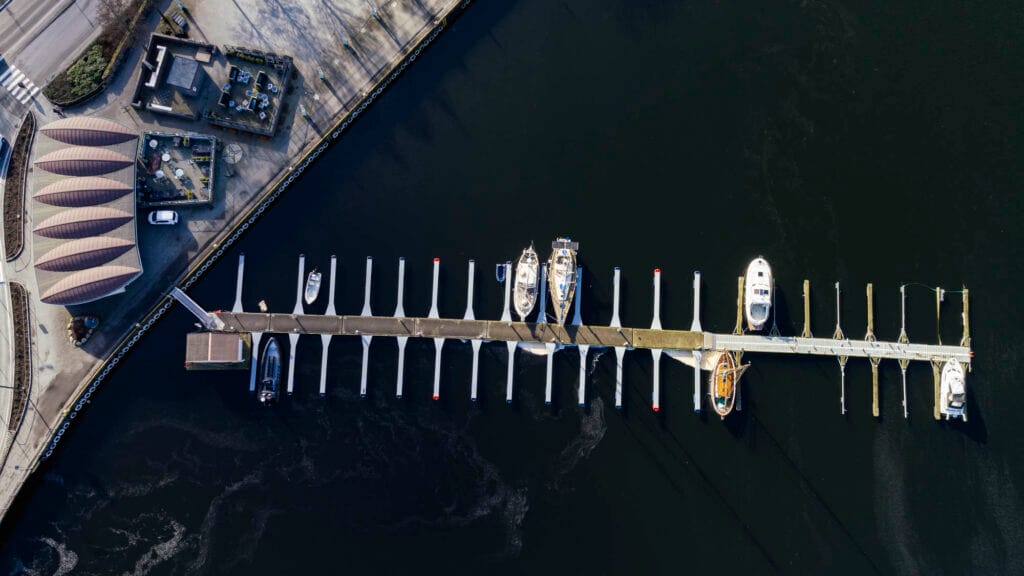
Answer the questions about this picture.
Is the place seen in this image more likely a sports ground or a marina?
marina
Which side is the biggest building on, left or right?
left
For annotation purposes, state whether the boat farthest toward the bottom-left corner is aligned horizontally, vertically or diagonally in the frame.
vertically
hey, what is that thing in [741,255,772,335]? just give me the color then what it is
white boat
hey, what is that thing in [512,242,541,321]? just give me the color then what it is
white boat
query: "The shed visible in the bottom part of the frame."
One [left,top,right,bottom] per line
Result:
[186,332,252,370]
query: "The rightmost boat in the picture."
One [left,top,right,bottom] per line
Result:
[940,357,977,421]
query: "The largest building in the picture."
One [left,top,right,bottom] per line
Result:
[32,117,151,307]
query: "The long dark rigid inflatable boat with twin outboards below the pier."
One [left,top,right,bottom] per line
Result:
[258,336,282,405]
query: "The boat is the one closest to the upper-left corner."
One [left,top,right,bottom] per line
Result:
[305,269,321,304]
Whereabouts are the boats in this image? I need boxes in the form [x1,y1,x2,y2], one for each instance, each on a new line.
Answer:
[496,263,505,282]
[512,242,541,321]
[741,255,772,335]
[709,347,752,420]
[258,336,282,405]
[305,269,321,304]
[940,357,977,421]
[549,238,580,325]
